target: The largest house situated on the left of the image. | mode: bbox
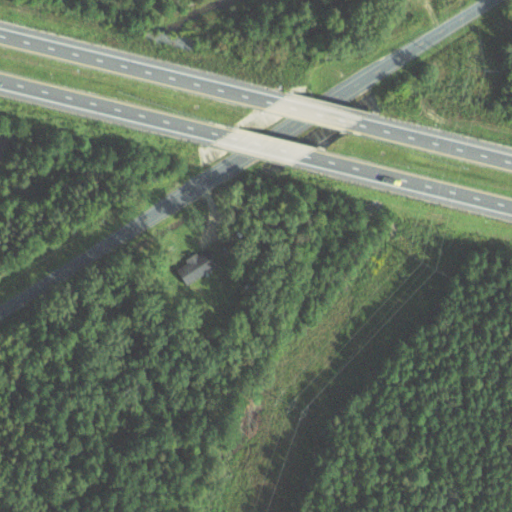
[178,254,214,286]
